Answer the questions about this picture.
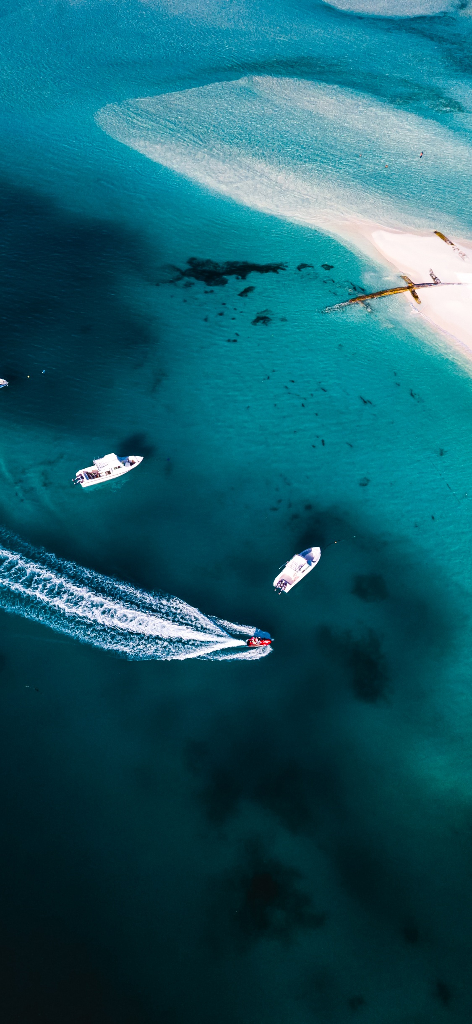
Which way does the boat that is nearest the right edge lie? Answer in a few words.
at an angle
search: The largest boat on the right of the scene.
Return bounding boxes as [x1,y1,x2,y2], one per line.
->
[272,546,322,596]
